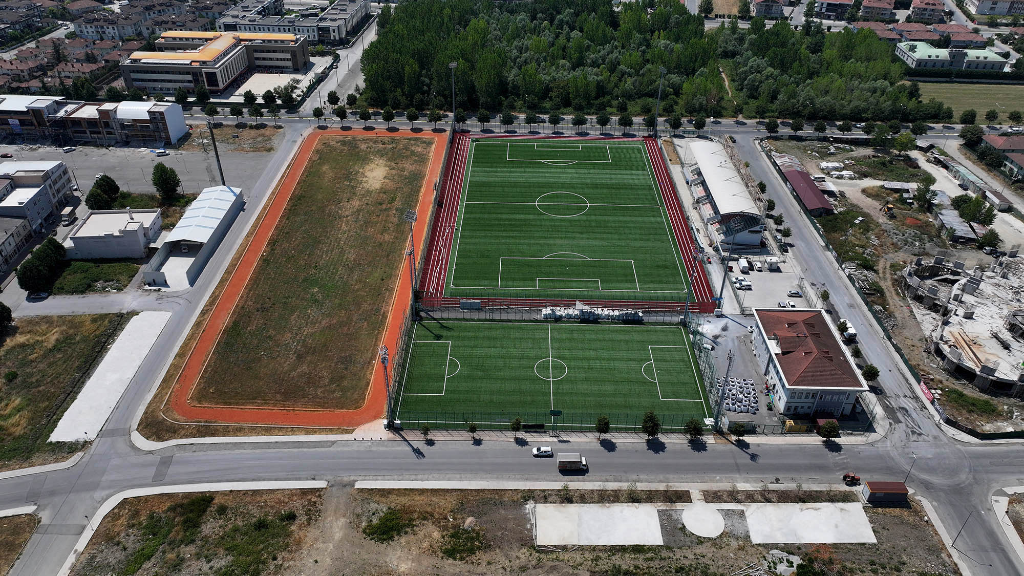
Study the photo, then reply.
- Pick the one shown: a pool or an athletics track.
athletics track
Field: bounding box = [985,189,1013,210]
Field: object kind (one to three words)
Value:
shed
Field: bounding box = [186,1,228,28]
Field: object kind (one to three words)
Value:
building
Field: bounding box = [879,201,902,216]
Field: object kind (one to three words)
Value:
work vehicle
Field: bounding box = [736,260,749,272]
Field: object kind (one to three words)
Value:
vehicle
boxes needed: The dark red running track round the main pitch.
[416,133,718,316]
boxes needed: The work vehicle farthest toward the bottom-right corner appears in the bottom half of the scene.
[843,472,862,485]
